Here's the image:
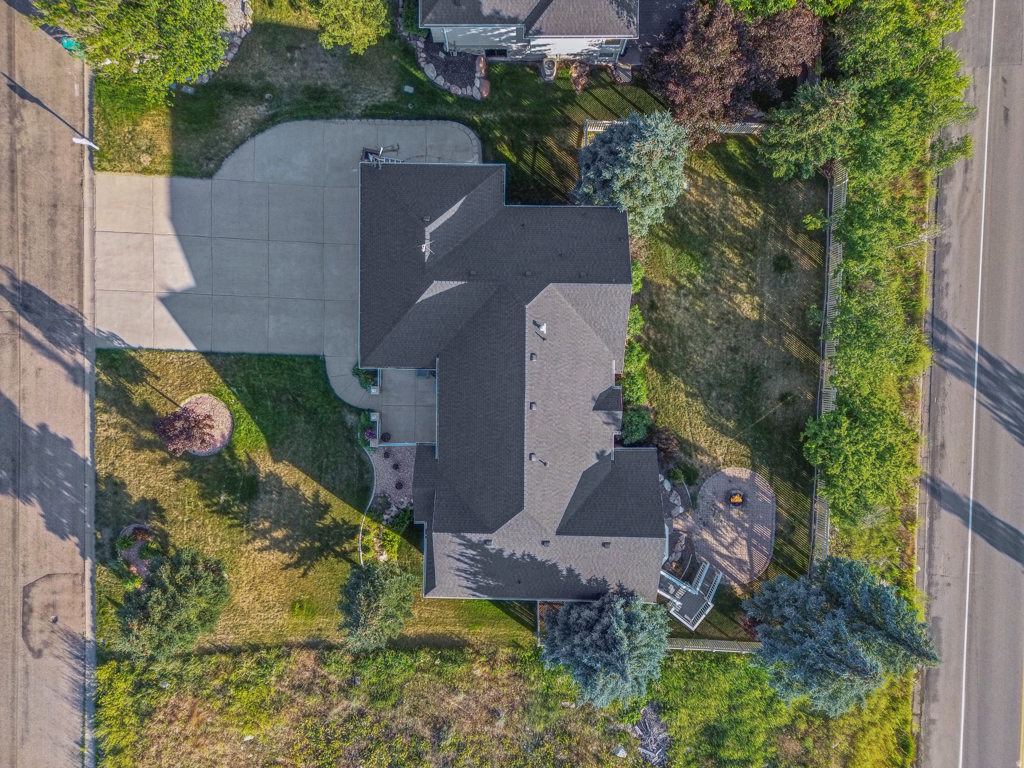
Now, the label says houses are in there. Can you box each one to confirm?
[357,161,667,605]
[418,0,691,71]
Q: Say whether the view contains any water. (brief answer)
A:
No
